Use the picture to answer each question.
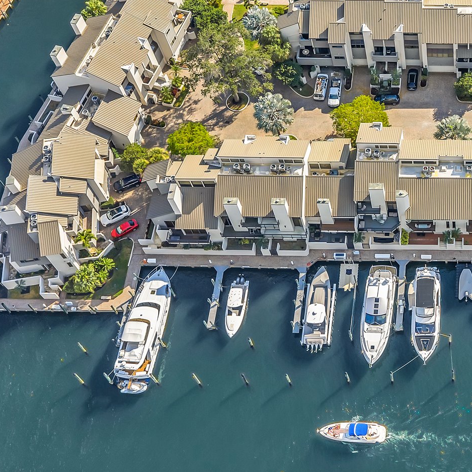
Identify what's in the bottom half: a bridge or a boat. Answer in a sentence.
The feature located in the bottom half is a boat.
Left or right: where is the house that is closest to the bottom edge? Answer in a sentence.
The house that is closest to the bottom edge is on the left side of the image.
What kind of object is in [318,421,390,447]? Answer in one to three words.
boat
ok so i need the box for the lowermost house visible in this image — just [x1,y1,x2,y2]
[8,214,78,279]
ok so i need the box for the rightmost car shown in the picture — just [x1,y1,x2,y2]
[407,68,419,91]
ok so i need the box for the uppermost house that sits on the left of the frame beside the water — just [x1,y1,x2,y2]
[50,0,191,105]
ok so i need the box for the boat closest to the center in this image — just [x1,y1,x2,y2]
[226,277,250,338]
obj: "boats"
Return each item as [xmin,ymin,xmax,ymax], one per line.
[114,264,166,389]
[118,382,147,395]
[407,267,442,366]
[306,265,329,351]
[226,277,250,338]
[362,266,396,367]
[318,421,390,447]
[460,268,472,306]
